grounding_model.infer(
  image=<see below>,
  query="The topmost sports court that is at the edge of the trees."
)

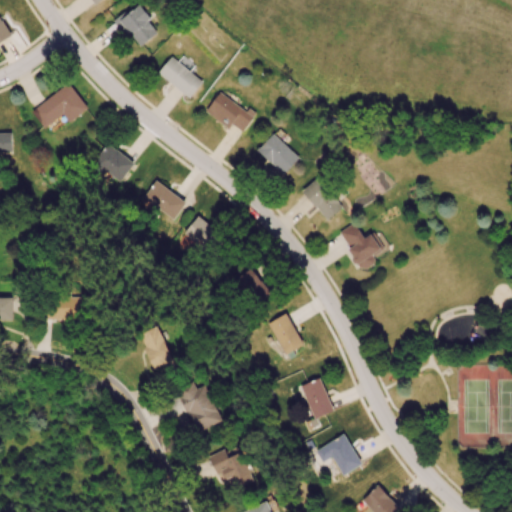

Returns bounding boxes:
[440,315,479,348]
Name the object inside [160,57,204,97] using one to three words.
house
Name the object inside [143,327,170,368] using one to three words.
house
